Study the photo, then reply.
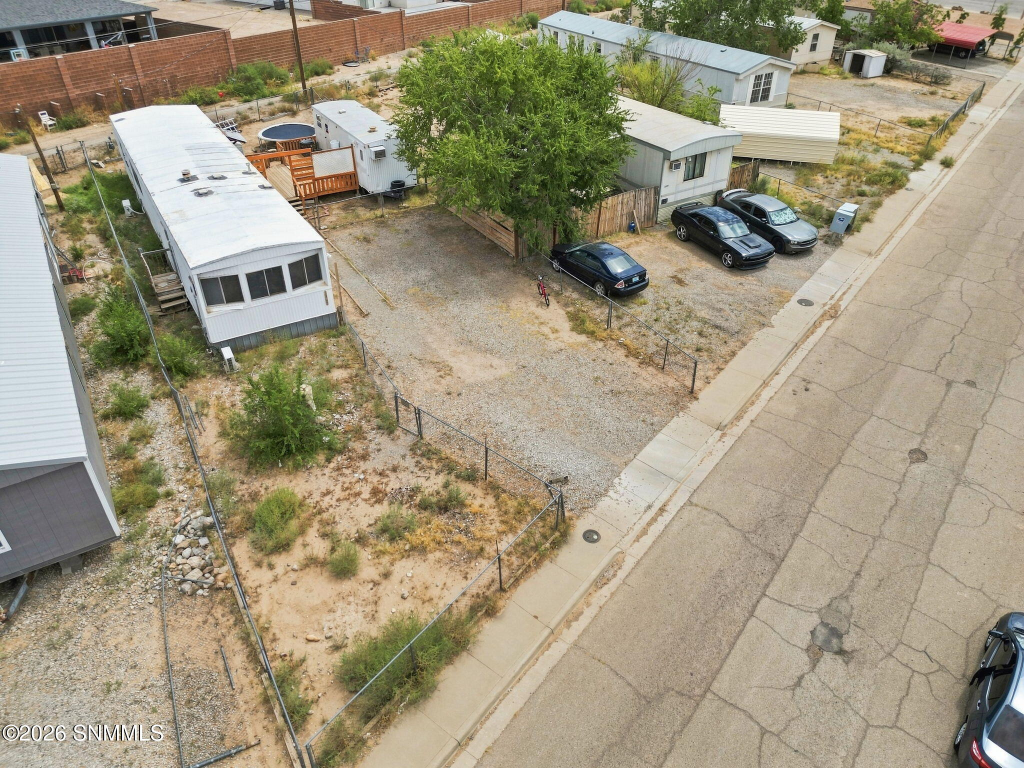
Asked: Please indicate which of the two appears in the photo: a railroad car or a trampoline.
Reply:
trampoline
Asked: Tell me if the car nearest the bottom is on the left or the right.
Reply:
right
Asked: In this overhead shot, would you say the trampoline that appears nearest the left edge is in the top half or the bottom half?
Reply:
top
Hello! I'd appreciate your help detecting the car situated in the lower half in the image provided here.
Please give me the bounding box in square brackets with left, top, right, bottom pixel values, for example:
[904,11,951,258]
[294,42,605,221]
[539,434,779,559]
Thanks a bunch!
[951,602,1024,768]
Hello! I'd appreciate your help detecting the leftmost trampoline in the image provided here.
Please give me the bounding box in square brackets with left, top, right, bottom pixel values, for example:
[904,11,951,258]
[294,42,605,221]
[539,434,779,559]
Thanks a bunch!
[251,121,313,152]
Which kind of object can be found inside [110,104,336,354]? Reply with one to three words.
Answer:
house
